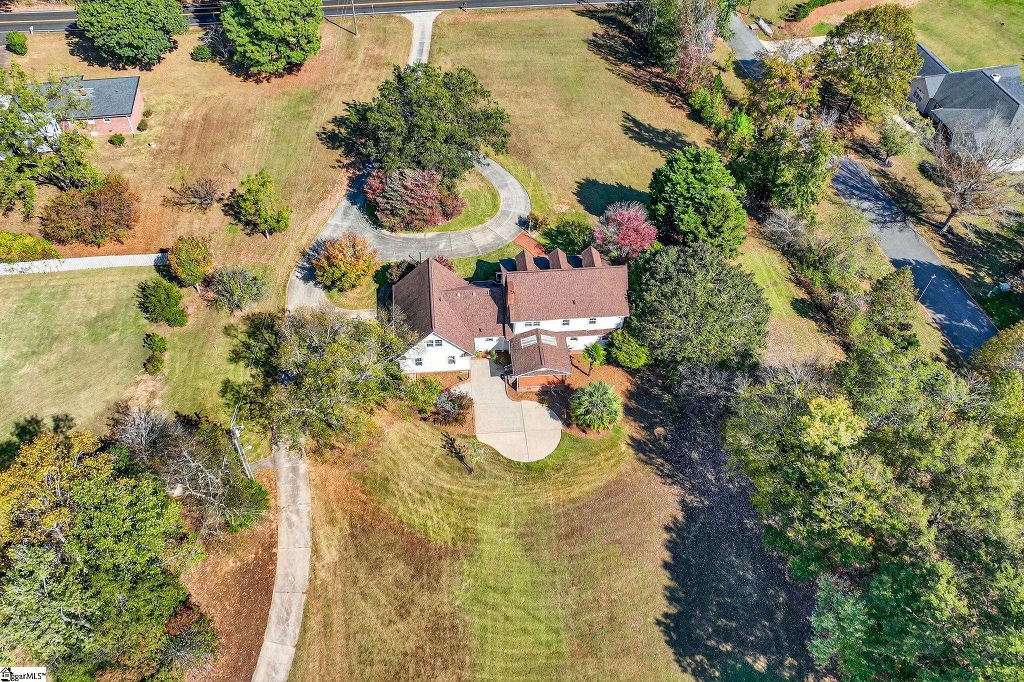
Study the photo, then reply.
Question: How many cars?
0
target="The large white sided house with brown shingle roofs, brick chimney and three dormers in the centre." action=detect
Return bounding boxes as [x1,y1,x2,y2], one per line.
[385,245,630,393]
